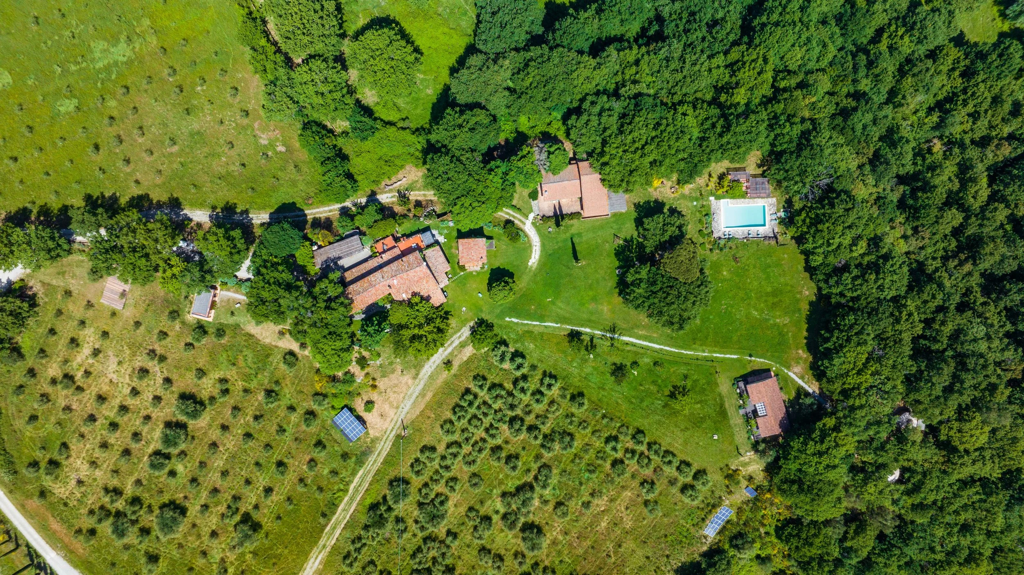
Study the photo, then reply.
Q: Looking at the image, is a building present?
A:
Yes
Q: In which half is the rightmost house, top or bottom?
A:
bottom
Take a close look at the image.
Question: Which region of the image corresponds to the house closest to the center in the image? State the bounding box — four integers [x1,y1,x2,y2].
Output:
[458,238,494,271]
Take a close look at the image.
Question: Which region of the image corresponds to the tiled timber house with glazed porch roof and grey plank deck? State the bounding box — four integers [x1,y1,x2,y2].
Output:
[736,371,791,440]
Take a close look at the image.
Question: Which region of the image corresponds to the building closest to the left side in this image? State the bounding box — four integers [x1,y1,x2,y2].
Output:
[189,285,220,321]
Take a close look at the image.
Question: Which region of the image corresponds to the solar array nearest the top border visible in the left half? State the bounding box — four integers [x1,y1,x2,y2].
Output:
[332,408,367,443]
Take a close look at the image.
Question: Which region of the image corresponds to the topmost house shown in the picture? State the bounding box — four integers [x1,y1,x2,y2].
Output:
[531,160,627,219]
